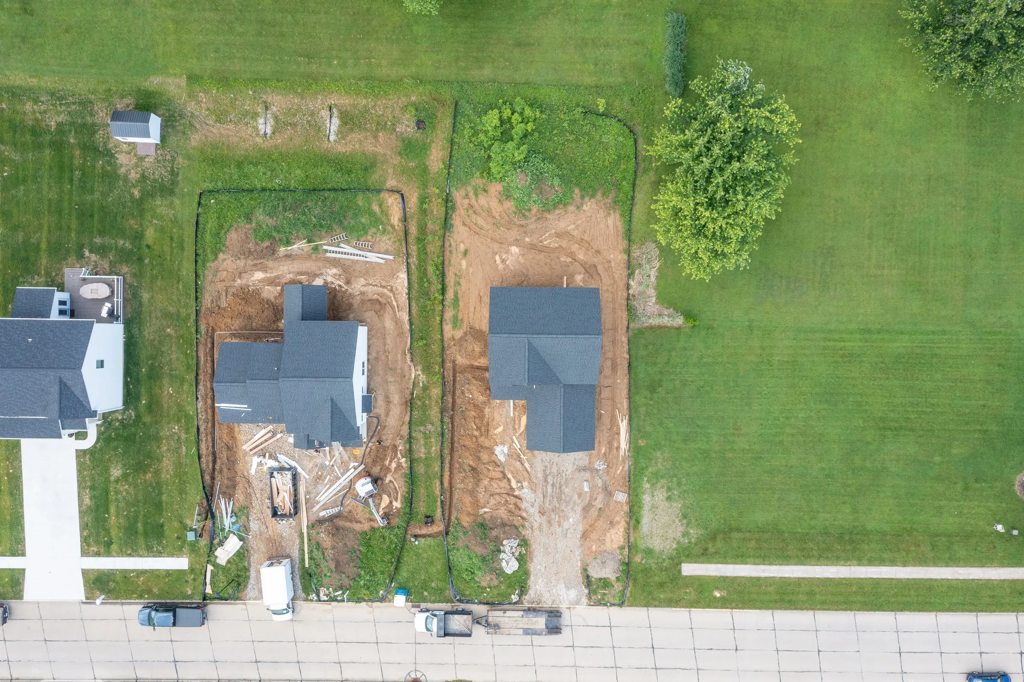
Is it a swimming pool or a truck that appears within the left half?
truck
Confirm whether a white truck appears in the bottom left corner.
Yes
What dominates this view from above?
grass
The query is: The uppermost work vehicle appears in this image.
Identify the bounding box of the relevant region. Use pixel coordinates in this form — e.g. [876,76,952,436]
[352,471,389,526]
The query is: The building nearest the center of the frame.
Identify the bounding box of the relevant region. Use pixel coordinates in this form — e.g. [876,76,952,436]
[488,287,604,453]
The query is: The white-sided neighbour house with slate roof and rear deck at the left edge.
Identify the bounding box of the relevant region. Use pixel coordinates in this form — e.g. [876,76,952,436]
[0,287,128,439]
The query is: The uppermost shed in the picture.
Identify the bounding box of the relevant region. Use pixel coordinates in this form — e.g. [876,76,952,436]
[106,109,161,155]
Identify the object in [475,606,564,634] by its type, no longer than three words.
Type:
trailer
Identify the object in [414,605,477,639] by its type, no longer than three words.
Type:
truck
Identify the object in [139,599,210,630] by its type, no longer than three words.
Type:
truck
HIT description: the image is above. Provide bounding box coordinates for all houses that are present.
[214,284,374,450]
[0,287,128,439]
[488,287,604,453]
